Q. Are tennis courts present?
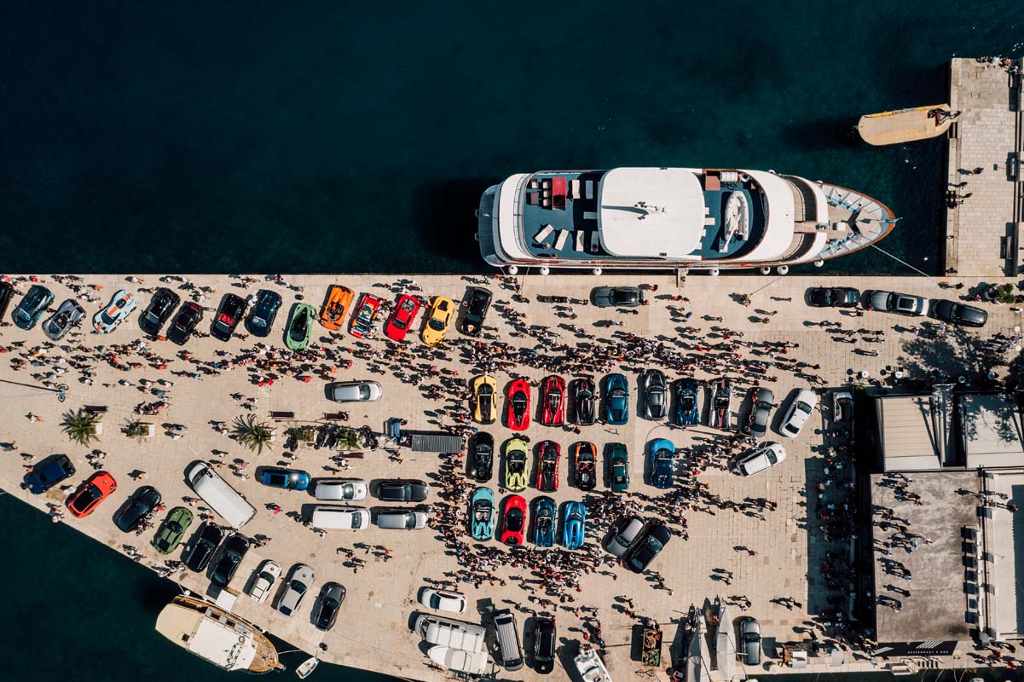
No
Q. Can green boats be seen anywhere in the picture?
No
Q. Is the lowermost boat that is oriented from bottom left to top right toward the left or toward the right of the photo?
left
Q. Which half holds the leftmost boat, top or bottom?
bottom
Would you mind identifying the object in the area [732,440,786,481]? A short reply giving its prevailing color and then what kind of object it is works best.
white car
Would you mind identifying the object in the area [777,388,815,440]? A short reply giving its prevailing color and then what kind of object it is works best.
white car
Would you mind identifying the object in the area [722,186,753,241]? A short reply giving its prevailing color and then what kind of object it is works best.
white boat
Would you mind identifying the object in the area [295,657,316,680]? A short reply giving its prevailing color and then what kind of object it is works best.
white boat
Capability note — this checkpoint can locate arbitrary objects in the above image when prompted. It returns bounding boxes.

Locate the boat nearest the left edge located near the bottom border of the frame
[152,592,291,680]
